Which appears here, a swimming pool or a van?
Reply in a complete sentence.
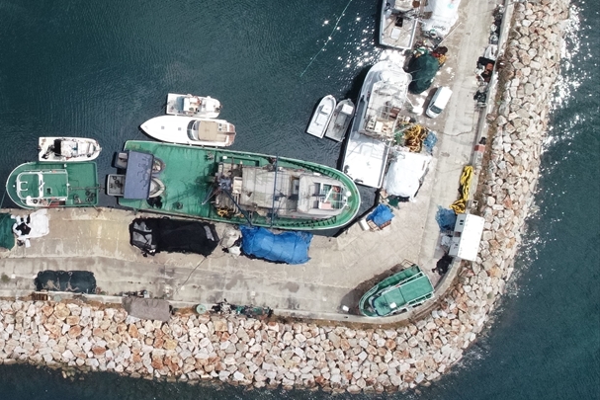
The image shows a van.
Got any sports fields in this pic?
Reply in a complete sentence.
No, no sports field is visible in the view.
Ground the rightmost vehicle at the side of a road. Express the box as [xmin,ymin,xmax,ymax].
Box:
[425,86,454,118]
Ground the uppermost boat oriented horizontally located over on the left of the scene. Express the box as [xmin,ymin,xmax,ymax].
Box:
[164,93,222,116]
